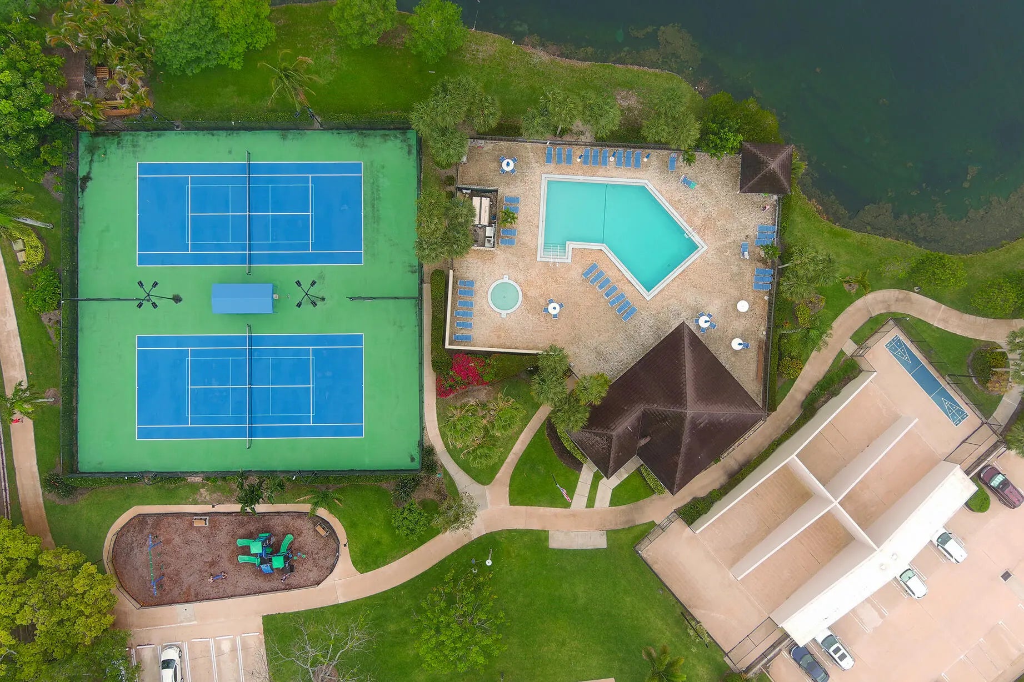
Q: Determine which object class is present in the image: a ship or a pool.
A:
pool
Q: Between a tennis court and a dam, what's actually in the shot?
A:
tennis court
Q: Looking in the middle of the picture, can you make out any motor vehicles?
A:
No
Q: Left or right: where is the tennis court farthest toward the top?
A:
left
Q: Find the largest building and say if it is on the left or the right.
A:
right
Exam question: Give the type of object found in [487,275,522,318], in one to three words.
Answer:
swimming pool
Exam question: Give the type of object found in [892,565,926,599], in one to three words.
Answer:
car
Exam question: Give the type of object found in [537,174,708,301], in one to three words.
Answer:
swimming pool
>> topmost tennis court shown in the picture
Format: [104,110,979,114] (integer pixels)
[77,130,421,300]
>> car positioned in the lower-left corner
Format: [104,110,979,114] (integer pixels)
[158,647,184,682]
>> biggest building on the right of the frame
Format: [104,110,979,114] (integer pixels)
[565,321,768,496]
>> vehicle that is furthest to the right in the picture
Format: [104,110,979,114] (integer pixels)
[979,464,1024,509]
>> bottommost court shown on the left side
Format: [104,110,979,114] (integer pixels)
[77,300,422,472]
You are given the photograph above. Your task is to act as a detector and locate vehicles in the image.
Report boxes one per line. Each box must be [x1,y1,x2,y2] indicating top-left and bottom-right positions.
[892,565,926,599]
[158,647,184,682]
[792,644,833,682]
[979,464,1024,509]
[813,628,855,671]
[929,526,967,564]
